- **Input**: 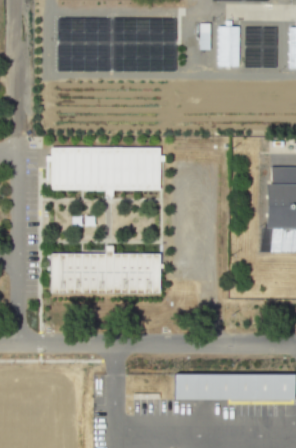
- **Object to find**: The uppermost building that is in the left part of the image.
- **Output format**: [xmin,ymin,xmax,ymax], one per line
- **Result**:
[46,146,165,198]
